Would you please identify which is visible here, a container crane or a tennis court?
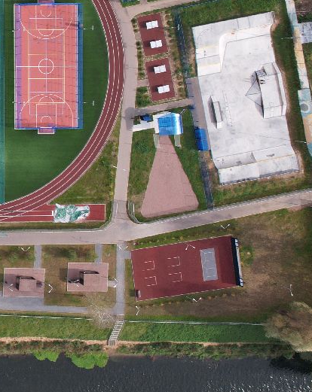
tennis court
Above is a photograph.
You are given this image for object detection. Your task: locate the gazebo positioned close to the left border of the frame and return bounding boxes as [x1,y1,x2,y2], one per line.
[14,274,37,292]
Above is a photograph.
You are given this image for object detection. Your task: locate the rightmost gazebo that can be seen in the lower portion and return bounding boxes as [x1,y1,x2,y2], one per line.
[79,269,101,285]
